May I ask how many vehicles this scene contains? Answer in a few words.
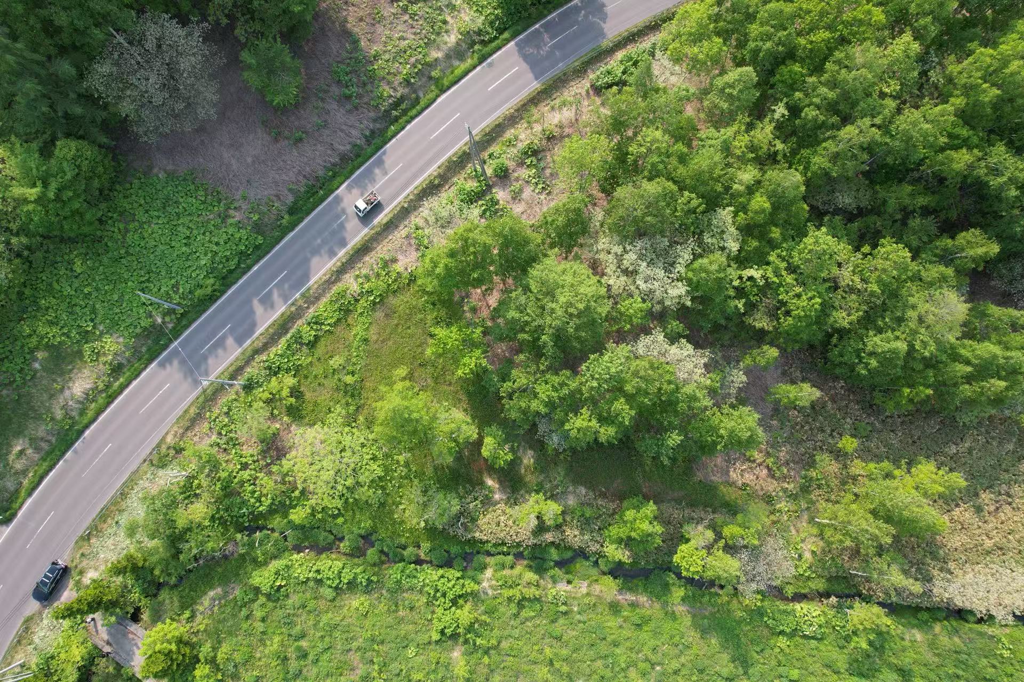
two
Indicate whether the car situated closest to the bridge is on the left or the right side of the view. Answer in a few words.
left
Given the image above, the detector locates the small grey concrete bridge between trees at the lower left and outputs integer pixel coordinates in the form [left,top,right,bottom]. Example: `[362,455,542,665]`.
[87,607,181,682]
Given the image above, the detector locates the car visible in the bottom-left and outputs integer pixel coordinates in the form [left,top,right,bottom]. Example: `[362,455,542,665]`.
[36,559,71,602]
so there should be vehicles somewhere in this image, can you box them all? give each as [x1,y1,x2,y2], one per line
[354,190,381,217]
[36,559,71,602]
